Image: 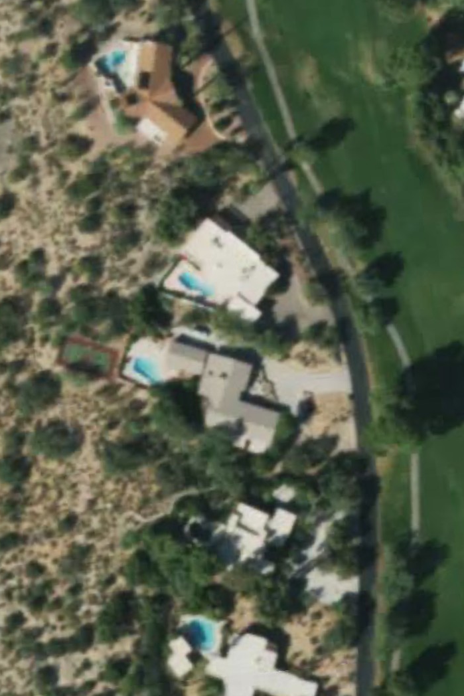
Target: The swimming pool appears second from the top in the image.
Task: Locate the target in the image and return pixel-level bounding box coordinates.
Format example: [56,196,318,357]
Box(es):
[178,271,215,298]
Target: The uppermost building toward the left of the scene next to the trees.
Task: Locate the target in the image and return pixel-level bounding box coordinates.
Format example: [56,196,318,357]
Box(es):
[124,41,196,148]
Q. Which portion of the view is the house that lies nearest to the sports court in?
center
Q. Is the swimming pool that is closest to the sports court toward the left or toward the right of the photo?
left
